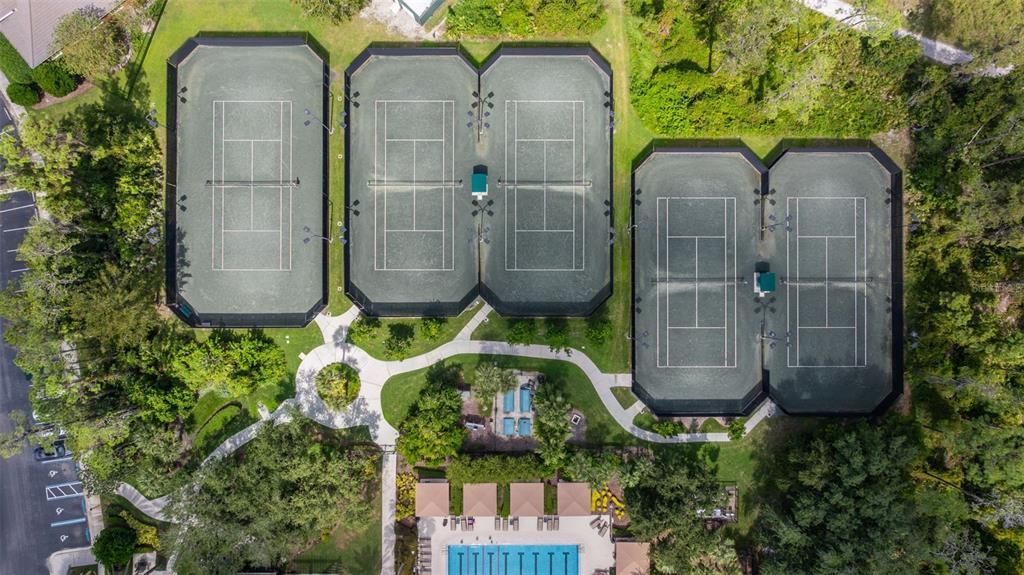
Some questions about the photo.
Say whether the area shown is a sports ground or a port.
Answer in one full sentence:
It's a sports ground.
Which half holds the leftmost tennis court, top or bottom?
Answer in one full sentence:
It is in the top half that the leftmost tennis court appears.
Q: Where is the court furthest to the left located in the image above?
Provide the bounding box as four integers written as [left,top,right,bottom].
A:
[177,45,322,326]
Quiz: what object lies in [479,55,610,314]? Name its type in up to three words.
tennis court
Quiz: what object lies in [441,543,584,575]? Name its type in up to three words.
swimming pool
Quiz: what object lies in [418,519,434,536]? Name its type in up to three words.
umbrella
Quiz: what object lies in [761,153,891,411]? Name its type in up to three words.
tennis court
